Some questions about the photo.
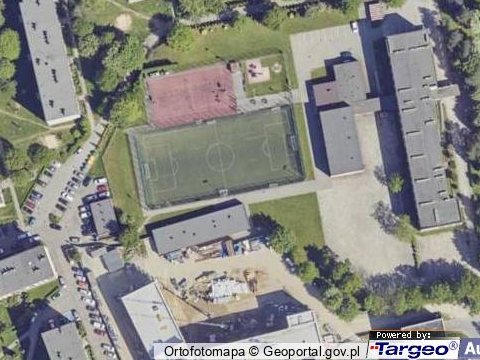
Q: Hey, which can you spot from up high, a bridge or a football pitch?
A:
football pitch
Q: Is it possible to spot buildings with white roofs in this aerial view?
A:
Yes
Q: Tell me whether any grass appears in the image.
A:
Yes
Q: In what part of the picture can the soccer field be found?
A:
center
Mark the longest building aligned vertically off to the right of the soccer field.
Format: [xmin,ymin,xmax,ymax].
[387,30,461,231]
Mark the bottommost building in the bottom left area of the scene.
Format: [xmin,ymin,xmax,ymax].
[41,323,88,360]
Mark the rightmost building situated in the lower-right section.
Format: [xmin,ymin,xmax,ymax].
[402,318,447,353]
